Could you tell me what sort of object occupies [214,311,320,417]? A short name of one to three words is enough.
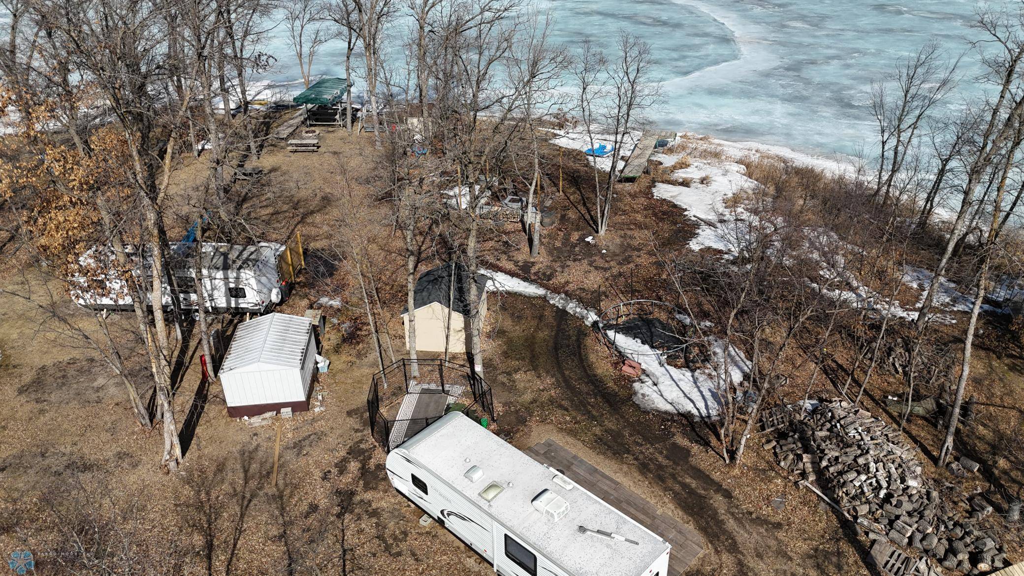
shed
